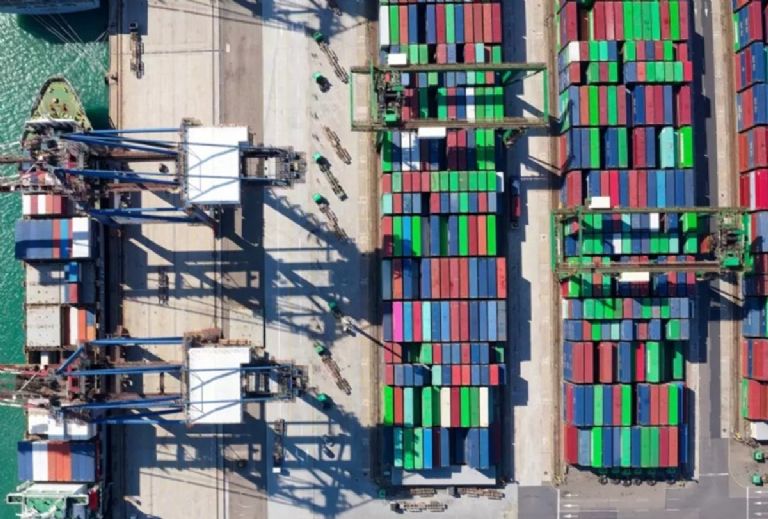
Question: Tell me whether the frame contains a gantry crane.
Yes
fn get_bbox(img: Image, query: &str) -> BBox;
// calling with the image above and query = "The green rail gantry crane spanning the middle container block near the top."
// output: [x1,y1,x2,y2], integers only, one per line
[351,53,550,142]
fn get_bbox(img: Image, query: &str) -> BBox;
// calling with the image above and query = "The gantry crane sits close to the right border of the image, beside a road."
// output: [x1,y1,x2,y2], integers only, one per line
[551,196,751,281]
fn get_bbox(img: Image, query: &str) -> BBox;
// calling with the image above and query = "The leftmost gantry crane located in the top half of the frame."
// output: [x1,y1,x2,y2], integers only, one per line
[0,123,310,242]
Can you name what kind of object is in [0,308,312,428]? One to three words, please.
container crane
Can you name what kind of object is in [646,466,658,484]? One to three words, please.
vehicle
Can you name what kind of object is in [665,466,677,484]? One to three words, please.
vehicle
